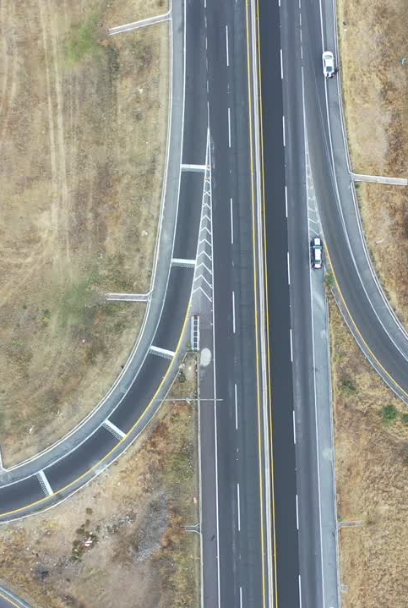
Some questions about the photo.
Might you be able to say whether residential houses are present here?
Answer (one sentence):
No, there appears to be no residential house in this shot.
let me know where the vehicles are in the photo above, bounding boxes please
[323,52,336,75]
[311,239,324,266]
